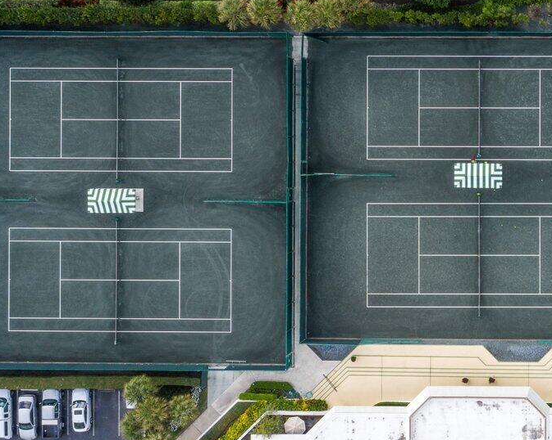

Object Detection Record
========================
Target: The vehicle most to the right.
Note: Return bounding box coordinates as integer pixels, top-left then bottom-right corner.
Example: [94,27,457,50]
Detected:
[70,388,94,433]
